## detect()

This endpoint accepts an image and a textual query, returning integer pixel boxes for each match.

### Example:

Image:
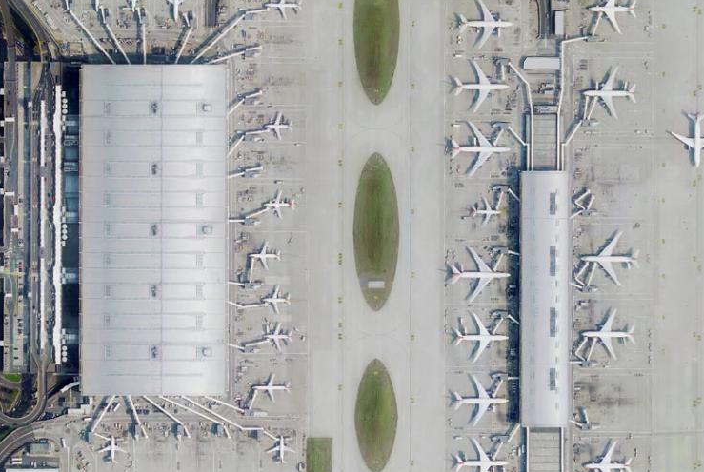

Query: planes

[249,241,281,270]
[452,122,511,176]
[262,285,291,314]
[457,312,509,362]
[583,66,636,117]
[457,437,509,472]
[671,113,704,167]
[463,0,513,47]
[266,0,301,19]
[167,0,185,22]
[472,198,501,225]
[456,60,510,112]
[581,231,639,285]
[265,323,292,350]
[268,436,295,463]
[582,307,635,358]
[253,372,291,402]
[266,190,294,218]
[266,112,293,139]
[455,374,509,426]
[590,0,637,32]
[451,247,511,302]
[584,442,632,472]
[100,436,127,463]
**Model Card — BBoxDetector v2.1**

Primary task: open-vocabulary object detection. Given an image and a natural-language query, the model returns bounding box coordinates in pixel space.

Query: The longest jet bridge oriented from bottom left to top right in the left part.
[191,7,270,64]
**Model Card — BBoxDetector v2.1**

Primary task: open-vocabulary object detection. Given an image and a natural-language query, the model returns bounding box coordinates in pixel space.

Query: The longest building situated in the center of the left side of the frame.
[77,64,230,395]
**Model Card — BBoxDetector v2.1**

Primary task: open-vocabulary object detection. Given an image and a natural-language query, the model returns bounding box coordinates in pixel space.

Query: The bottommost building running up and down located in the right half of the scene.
[521,105,571,472]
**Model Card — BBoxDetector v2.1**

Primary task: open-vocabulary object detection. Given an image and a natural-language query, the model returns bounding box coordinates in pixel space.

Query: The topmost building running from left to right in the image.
[524,56,560,69]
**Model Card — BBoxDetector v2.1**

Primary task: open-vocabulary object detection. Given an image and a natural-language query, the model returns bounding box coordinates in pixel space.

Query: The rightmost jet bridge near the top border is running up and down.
[558,12,602,171]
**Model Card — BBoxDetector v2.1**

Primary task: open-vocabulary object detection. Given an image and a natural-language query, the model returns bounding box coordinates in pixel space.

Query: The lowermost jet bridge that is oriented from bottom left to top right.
[492,424,521,461]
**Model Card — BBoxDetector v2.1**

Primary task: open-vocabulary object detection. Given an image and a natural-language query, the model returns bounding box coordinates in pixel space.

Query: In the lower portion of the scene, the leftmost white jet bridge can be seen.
[85,396,115,441]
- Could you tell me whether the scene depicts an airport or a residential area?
airport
